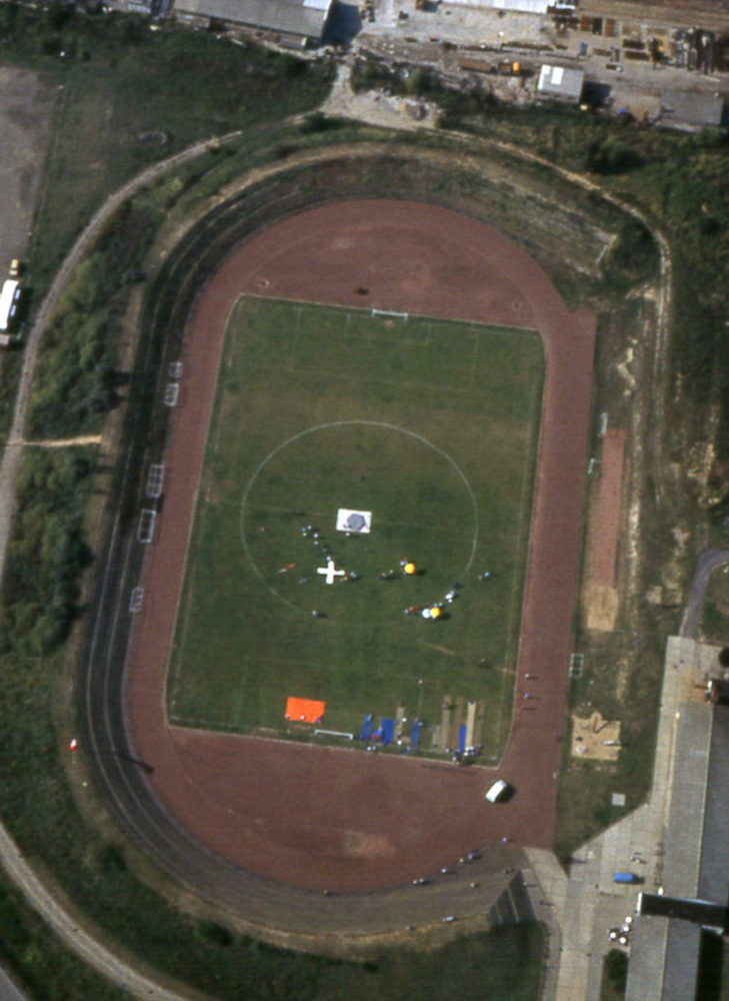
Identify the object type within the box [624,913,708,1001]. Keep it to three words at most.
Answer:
building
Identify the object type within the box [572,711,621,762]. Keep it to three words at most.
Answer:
playground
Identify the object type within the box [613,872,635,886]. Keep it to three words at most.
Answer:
vehicle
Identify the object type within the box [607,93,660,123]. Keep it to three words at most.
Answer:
shed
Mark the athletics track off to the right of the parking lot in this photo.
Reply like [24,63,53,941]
[124,197,597,896]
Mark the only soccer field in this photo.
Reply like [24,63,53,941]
[163,294,545,768]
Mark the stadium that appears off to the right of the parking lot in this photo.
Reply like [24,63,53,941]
[75,155,609,931]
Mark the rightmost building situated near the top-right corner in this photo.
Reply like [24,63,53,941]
[656,92,724,132]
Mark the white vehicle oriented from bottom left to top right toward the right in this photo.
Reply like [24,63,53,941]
[486,782,507,806]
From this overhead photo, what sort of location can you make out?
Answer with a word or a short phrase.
sports ground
